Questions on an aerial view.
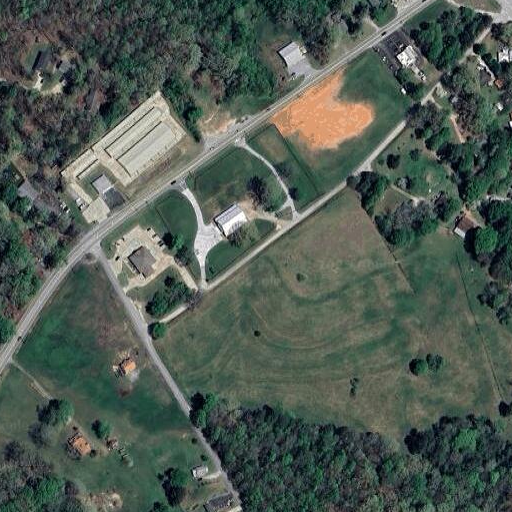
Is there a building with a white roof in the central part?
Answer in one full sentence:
Yes, there is a building with a white roof in the central part.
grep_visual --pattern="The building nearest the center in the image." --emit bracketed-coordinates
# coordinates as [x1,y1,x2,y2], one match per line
[214,204,247,236]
